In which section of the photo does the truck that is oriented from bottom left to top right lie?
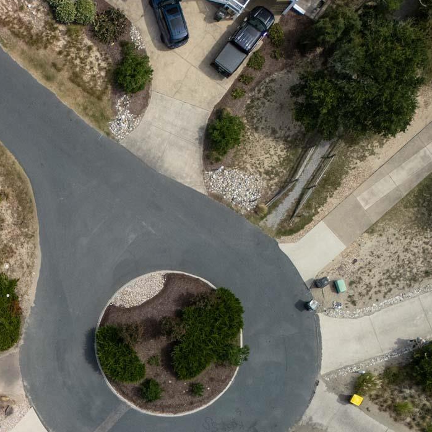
top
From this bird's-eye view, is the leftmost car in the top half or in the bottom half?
top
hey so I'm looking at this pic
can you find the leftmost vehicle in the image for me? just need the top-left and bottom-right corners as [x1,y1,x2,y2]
[149,0,188,53]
